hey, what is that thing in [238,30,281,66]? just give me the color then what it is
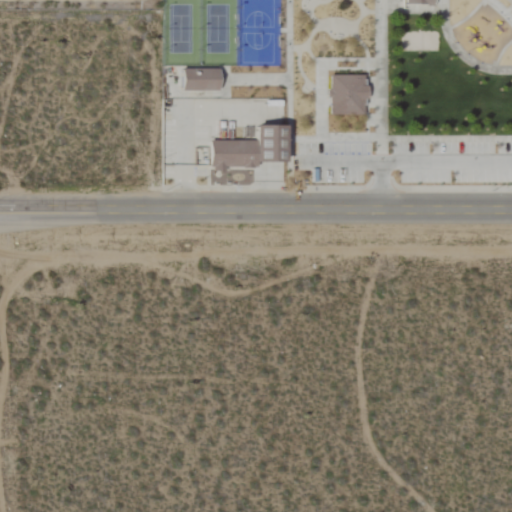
blue basketball court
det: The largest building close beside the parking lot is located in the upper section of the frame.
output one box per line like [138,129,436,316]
[212,126,291,171]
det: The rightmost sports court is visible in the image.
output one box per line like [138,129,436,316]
[402,29,440,52]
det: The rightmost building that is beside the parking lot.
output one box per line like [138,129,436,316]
[329,74,372,114]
